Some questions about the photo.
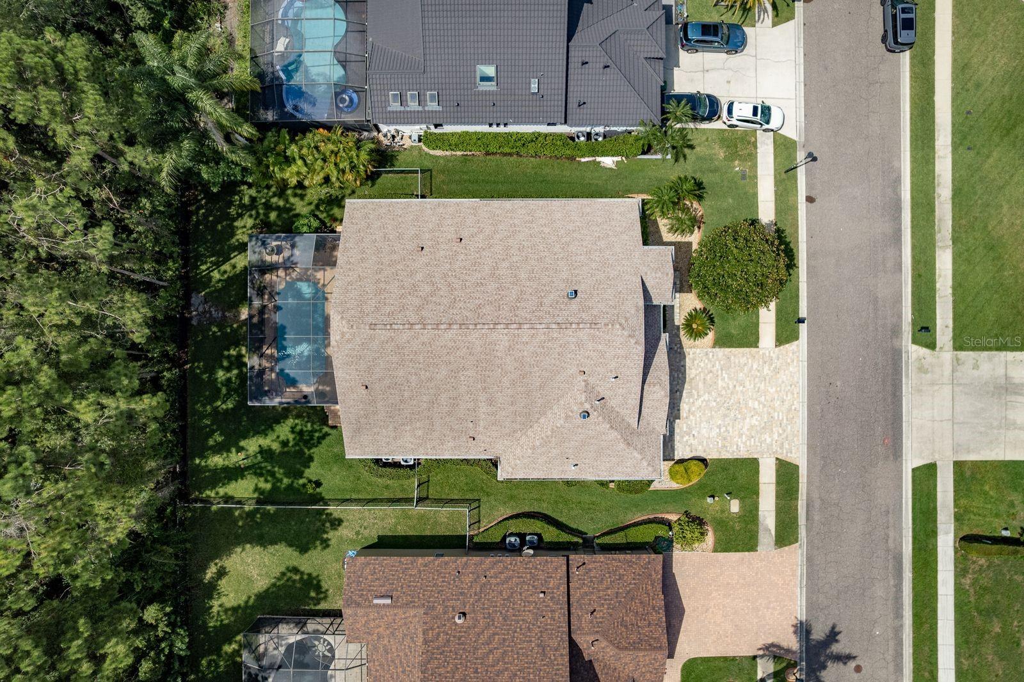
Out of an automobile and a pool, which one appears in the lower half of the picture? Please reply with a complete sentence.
There is a pool in the lower half of the picture.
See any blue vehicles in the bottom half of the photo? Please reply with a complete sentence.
No, in the bottom half of the photo there is no blue vehicle.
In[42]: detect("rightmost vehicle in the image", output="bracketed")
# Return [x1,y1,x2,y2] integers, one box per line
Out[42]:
[882,0,922,51]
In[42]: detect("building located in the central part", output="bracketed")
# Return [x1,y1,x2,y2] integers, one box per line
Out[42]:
[330,198,678,480]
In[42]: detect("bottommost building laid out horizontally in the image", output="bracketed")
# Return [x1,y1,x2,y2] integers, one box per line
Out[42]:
[339,545,670,682]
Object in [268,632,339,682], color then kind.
gray swimming pool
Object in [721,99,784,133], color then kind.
white car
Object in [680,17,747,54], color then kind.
blue car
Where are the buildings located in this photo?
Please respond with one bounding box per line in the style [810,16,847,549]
[360,0,665,133]
[339,545,670,682]
[330,198,678,480]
